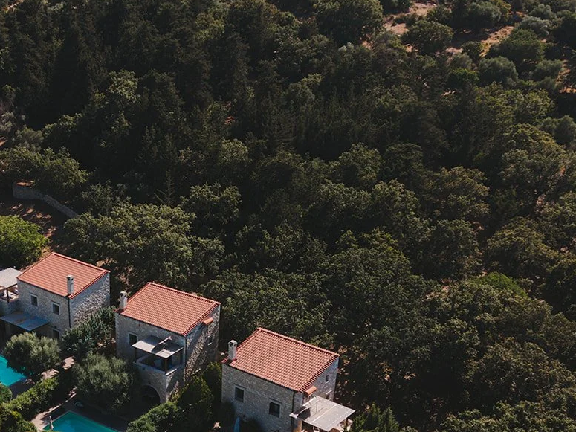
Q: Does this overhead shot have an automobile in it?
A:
No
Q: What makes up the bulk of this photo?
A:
trees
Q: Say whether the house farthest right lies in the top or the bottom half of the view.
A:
bottom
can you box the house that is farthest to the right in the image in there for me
[216,325,345,432]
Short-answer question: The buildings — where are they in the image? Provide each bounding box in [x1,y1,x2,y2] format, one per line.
[0,249,113,366]
[111,280,225,403]
[216,325,345,432]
